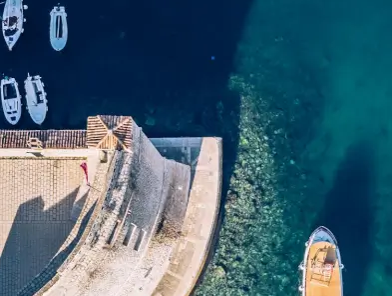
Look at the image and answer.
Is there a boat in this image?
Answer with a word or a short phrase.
Yes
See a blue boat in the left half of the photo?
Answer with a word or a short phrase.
Yes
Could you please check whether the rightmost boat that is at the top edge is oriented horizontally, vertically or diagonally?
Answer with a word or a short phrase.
vertically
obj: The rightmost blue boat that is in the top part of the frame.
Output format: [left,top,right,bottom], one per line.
[47,3,69,51]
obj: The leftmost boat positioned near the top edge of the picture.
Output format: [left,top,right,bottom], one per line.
[0,0,29,51]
